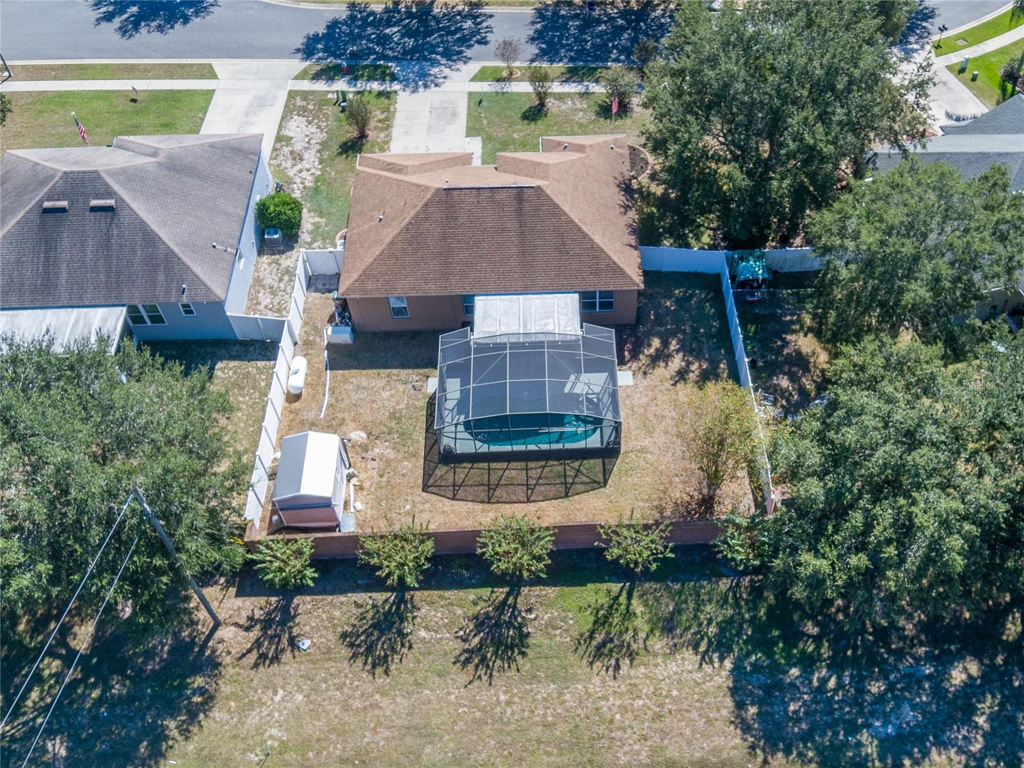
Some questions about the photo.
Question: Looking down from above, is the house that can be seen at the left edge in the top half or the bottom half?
top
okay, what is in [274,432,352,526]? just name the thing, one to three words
shed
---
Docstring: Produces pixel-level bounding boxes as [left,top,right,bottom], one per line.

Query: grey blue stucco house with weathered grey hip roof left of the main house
[0,129,273,342]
